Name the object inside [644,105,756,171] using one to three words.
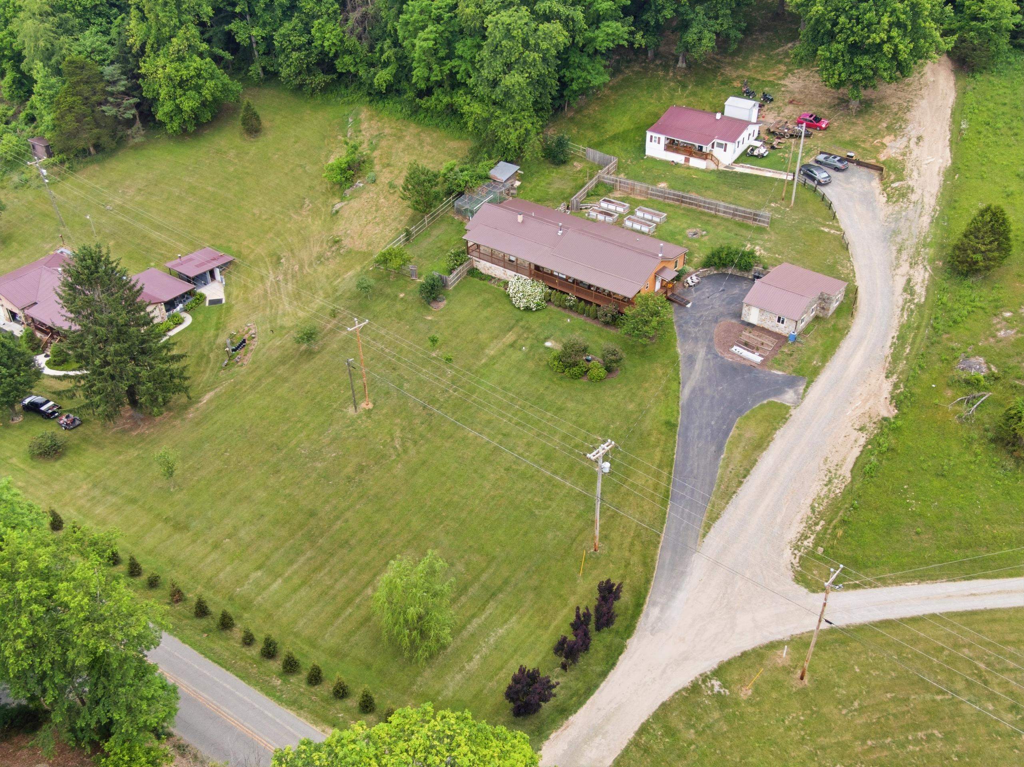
house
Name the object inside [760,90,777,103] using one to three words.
vehicle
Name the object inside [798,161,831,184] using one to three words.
car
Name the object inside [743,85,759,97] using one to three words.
vehicle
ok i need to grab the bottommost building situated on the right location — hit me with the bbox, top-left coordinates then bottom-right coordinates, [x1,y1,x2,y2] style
[741,261,849,336]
